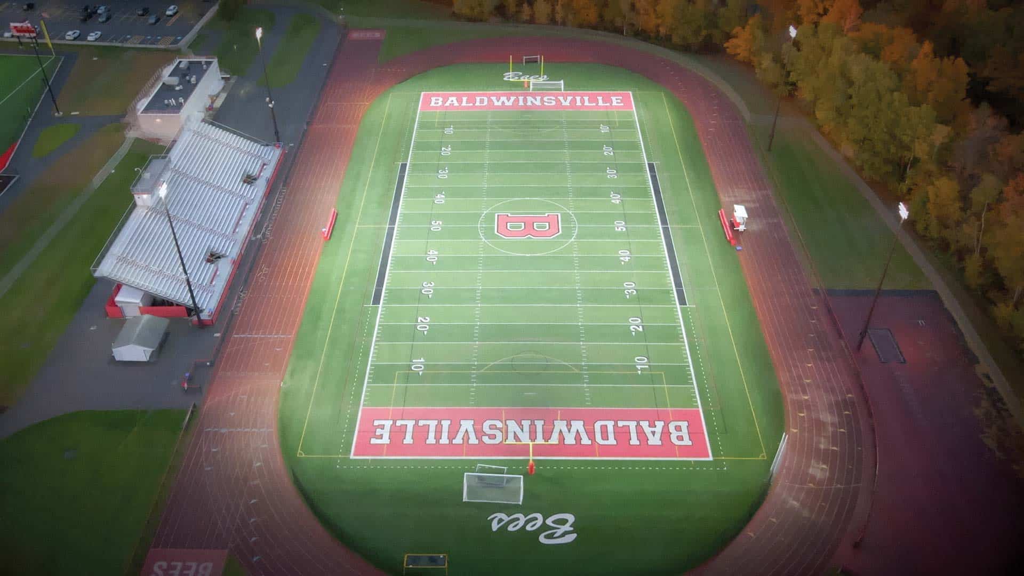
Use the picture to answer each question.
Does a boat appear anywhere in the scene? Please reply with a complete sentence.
No, the frame has no boat in it.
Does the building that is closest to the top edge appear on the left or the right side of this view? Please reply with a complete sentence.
The building that is closest to the top edge appears in the left half of the scene.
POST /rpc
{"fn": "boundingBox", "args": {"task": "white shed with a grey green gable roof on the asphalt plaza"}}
[107,314,167,362]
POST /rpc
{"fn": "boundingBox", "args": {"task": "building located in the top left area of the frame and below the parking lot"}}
[137,56,227,139]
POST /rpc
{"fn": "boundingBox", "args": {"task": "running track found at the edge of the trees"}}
[193,36,875,576]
